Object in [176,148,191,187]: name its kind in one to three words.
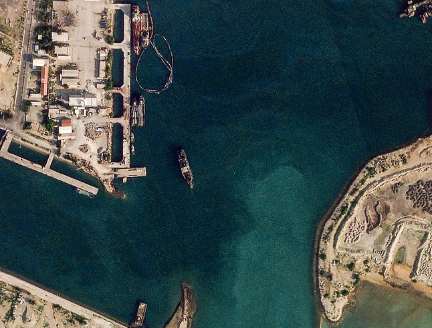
ship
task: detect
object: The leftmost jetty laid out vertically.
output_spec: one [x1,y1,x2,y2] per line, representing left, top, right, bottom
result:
[112,3,132,170]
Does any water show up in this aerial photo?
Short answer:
Yes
